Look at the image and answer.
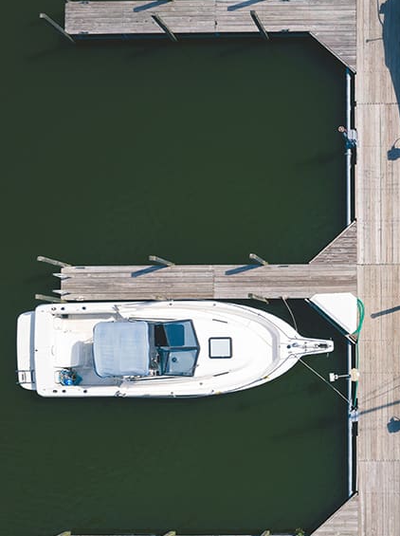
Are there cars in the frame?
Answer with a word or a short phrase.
No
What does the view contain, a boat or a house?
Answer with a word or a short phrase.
boat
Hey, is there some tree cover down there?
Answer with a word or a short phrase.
No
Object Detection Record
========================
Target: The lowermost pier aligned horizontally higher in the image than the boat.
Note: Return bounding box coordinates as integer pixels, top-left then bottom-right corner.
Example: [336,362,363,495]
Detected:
[60,221,357,302]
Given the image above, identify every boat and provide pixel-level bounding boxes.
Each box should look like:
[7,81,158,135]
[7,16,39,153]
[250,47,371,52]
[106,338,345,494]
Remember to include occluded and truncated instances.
[16,300,334,399]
